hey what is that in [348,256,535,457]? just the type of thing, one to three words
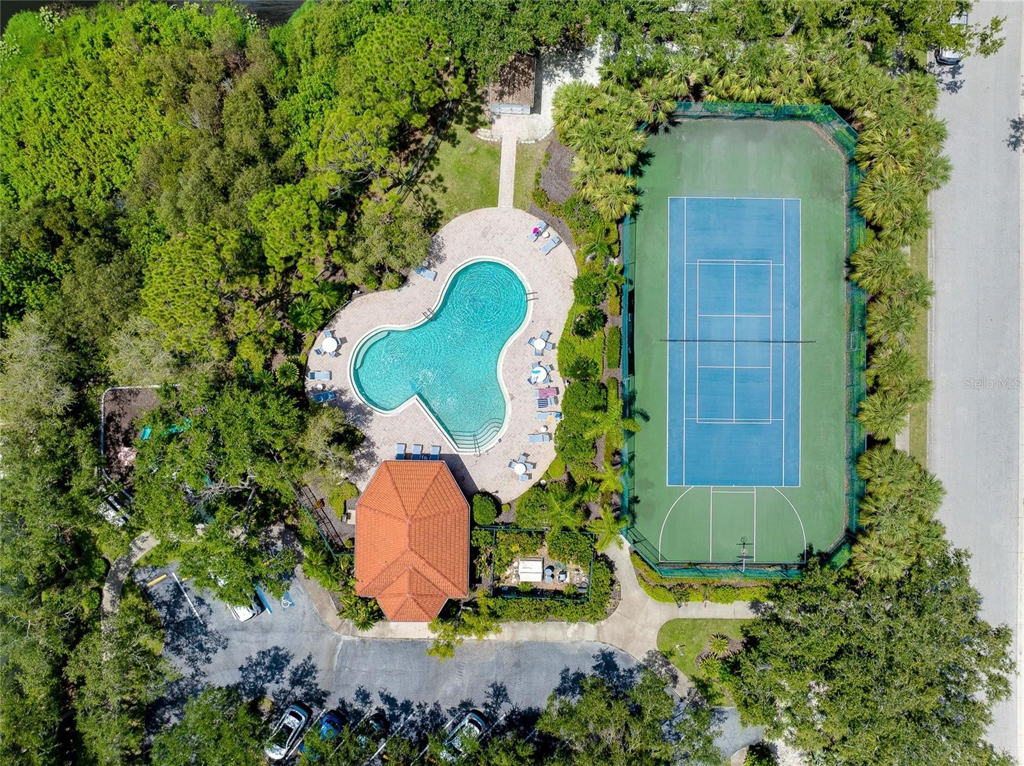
swimming pool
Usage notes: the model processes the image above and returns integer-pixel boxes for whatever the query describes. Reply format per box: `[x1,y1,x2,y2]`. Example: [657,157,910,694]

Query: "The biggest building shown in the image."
[354,459,470,624]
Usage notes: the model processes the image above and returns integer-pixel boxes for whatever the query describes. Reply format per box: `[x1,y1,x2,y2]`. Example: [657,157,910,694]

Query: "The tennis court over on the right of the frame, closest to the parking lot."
[629,118,847,570]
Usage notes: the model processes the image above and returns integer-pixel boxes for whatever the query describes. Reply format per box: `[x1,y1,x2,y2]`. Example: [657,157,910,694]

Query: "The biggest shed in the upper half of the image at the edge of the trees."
[489,47,533,114]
